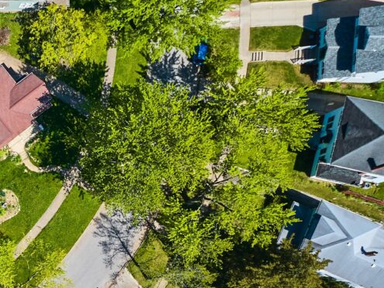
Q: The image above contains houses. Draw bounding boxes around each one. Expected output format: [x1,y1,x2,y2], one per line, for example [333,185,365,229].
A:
[0,65,52,151]
[275,201,384,288]
[0,0,71,13]
[288,5,384,86]
[304,96,384,189]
